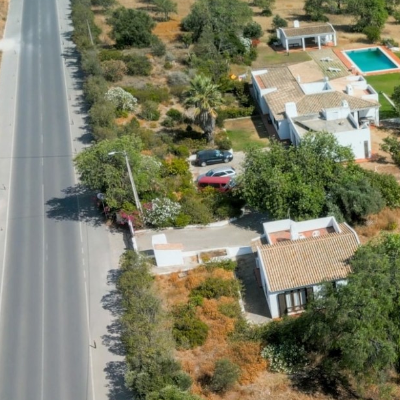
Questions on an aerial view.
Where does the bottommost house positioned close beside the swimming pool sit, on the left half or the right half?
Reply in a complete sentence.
You can find the bottommost house positioned close beside the swimming pool on the right side of the picture.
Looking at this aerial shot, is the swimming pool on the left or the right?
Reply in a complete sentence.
The swimming pool appears in the right half of the scene.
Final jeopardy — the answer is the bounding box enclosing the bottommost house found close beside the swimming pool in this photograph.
[252,65,385,159]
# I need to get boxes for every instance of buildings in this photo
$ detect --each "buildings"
[269,19,340,53]
[255,215,361,322]
[155,234,182,265]
[252,65,385,159]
